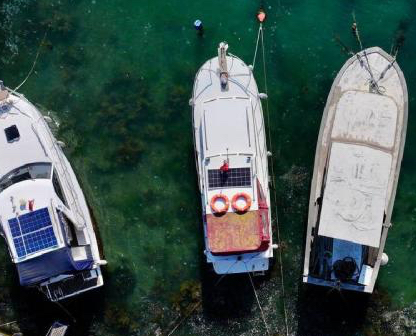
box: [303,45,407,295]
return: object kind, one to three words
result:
boat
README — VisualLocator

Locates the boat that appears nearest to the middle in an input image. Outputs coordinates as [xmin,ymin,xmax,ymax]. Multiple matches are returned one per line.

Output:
[194,43,274,276]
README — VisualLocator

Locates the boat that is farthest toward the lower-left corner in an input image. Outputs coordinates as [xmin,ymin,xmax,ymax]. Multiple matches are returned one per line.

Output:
[0,81,106,304]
